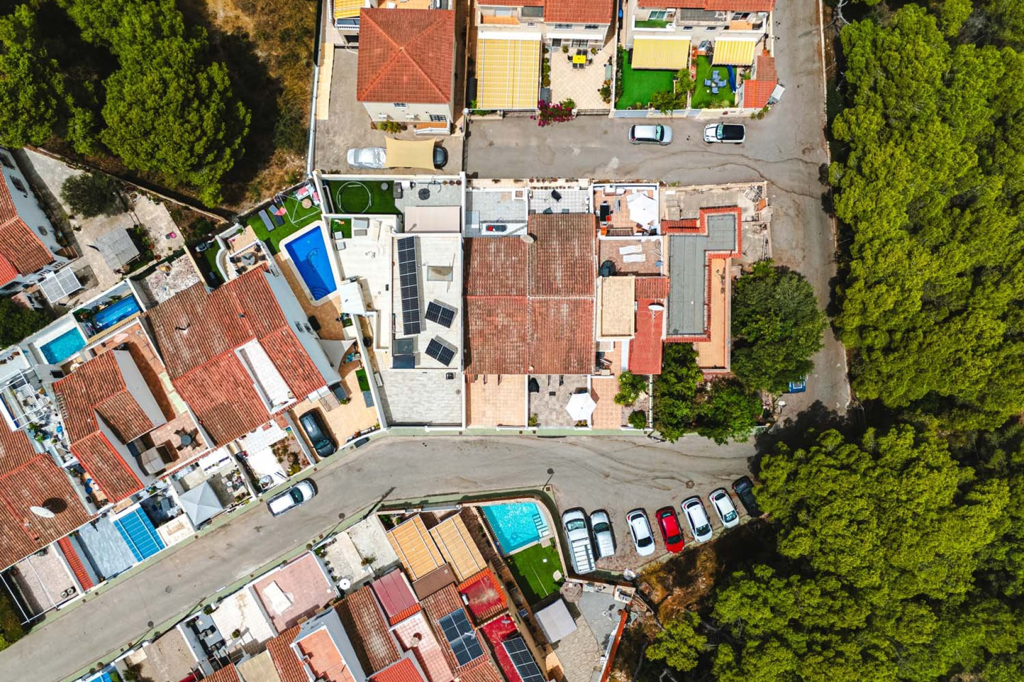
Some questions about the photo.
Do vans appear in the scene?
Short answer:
Yes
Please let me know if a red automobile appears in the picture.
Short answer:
Yes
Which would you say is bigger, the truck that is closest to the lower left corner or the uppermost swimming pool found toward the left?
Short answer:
the swimming pool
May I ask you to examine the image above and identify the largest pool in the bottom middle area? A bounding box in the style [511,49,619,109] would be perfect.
[479,501,549,558]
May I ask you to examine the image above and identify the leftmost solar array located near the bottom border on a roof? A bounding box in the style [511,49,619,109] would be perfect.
[439,609,483,666]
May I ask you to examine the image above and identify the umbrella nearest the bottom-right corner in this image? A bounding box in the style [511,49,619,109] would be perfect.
[565,393,599,423]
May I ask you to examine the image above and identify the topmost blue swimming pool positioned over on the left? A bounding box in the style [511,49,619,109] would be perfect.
[278,217,341,308]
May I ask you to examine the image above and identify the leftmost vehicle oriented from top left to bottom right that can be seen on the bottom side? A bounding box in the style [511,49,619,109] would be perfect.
[299,407,339,458]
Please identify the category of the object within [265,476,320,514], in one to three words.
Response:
truck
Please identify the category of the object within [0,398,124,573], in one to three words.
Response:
house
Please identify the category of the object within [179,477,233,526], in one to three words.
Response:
gazebo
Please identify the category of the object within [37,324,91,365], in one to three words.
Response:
swimming pool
